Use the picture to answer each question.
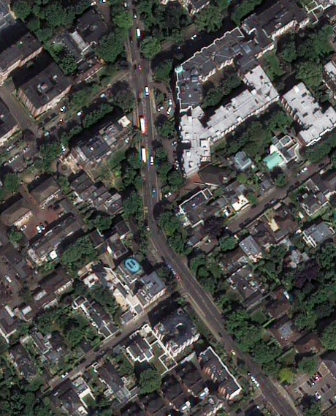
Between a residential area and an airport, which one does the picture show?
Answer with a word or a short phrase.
residential area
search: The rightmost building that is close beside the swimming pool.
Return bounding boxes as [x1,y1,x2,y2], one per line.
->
[136,271,166,310]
